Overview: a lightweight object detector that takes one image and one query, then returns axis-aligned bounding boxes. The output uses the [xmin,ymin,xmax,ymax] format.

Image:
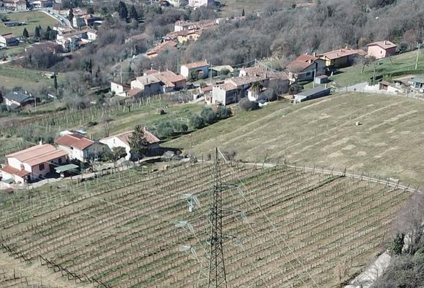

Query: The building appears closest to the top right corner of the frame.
[367,28,399,60]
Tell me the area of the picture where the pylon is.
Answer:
bottom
